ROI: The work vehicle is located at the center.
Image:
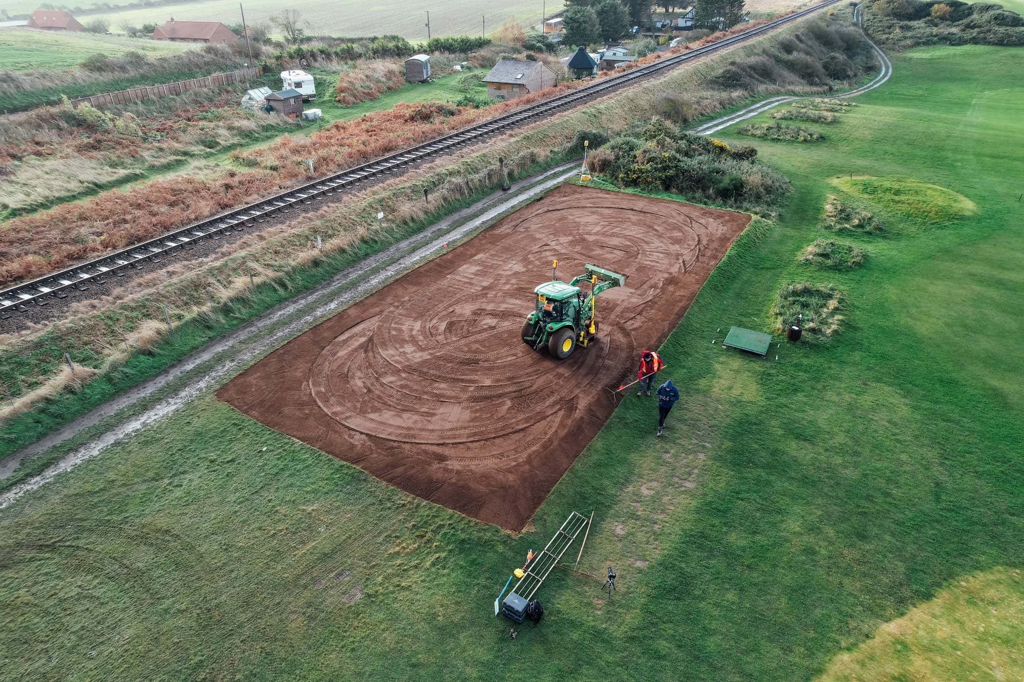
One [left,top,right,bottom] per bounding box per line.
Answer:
[517,257,629,359]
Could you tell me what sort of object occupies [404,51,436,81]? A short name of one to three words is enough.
shed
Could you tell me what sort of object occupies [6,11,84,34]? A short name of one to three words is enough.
house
